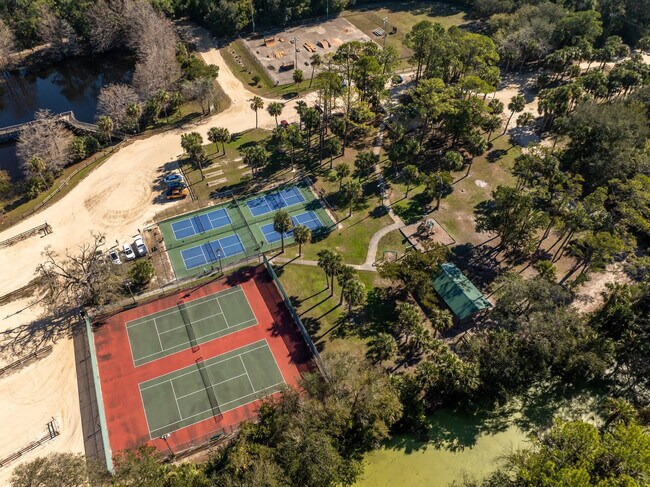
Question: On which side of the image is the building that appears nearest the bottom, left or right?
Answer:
right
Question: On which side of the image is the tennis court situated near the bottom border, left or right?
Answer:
left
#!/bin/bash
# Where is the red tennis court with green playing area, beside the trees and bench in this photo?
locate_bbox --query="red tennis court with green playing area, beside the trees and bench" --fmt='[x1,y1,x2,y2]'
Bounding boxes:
[101,320,322,472]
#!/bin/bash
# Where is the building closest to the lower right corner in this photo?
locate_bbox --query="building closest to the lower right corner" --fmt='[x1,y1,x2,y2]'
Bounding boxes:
[426,262,493,327]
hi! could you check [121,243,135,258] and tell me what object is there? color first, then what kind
white vehicle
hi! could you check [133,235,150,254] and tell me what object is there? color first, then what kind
white vehicle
